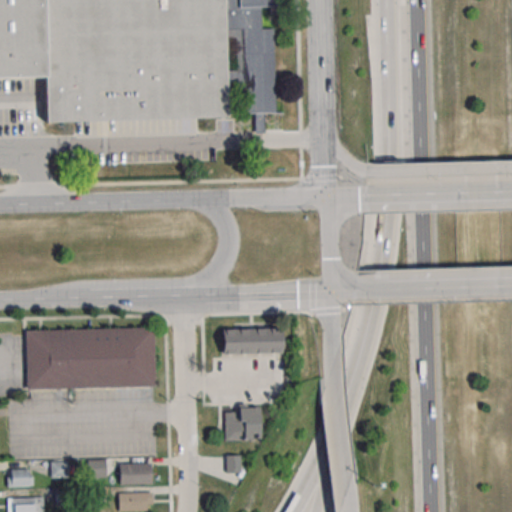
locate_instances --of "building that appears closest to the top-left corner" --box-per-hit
[0,0,228,122]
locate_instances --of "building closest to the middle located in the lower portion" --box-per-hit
[224,328,284,354]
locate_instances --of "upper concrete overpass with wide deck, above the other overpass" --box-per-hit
[363,160,512,213]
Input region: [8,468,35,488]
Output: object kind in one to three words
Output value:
house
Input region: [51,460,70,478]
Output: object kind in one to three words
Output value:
shed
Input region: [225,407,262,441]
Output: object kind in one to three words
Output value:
house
